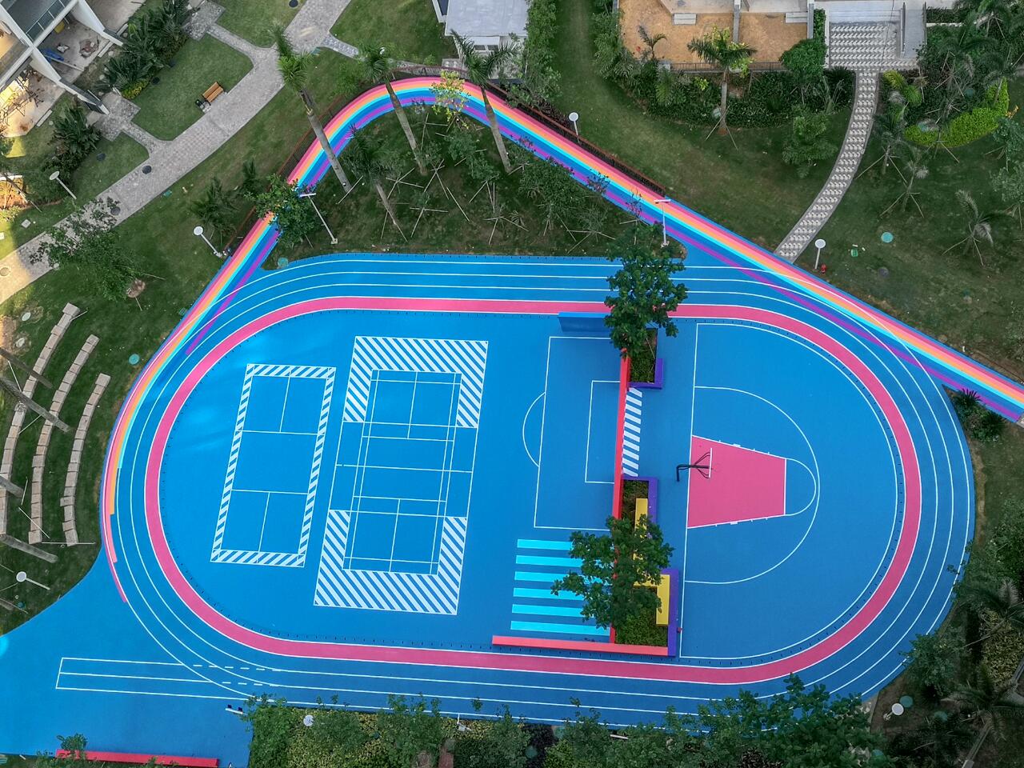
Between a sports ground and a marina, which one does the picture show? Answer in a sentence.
The picture captures a sports ground.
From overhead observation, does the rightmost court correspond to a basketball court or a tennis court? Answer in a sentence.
I'd say the rightmost court is a basketball court.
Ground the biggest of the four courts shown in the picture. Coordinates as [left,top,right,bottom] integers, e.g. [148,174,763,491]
[681,324,898,664]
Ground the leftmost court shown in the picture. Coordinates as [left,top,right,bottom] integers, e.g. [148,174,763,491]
[210,364,335,567]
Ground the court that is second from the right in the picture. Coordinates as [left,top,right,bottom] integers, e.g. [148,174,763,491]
[522,336,621,531]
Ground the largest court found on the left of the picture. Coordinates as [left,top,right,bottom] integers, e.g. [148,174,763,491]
[314,337,488,615]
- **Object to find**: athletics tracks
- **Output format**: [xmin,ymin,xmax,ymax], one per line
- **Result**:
[101,252,973,736]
